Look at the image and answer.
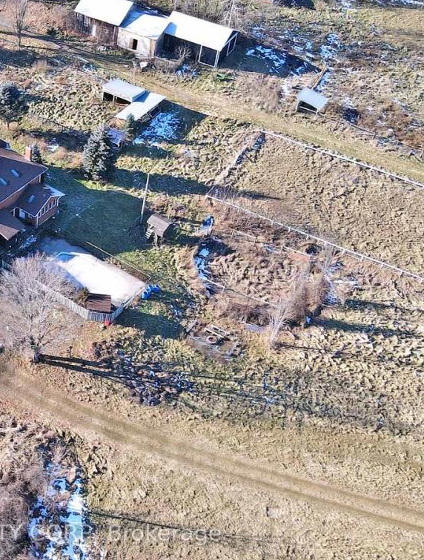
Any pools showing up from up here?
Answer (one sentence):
Yes, this view includes a pool.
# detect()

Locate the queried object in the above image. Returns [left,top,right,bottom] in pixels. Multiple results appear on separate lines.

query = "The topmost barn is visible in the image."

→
[72,0,246,67]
